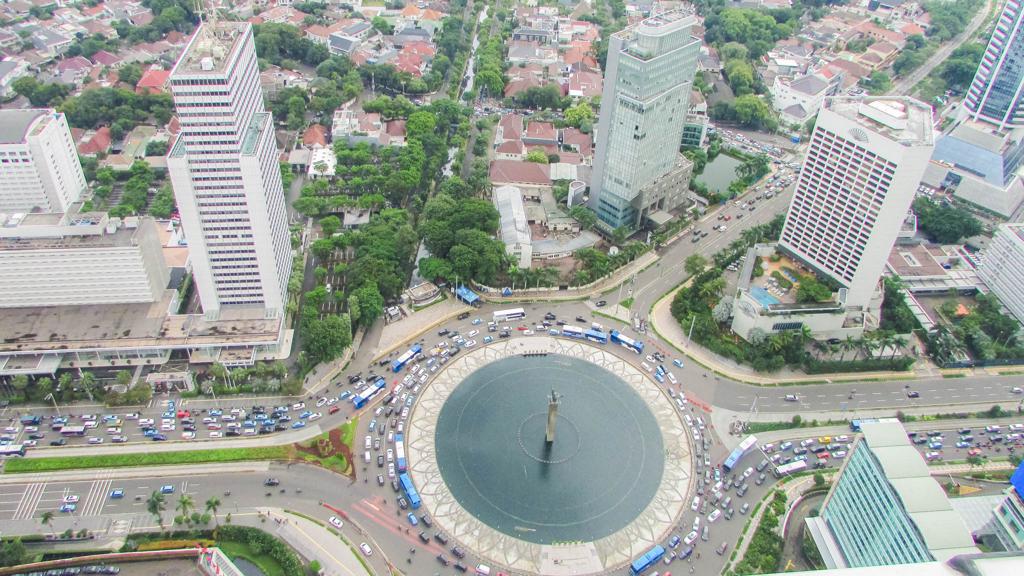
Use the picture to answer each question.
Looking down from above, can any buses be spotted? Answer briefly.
Yes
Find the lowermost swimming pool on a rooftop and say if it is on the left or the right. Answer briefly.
right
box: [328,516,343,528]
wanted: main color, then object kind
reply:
white vehicle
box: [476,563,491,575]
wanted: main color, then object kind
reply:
white vehicle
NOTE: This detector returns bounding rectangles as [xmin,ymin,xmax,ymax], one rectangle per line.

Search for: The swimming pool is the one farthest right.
[751,286,780,308]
